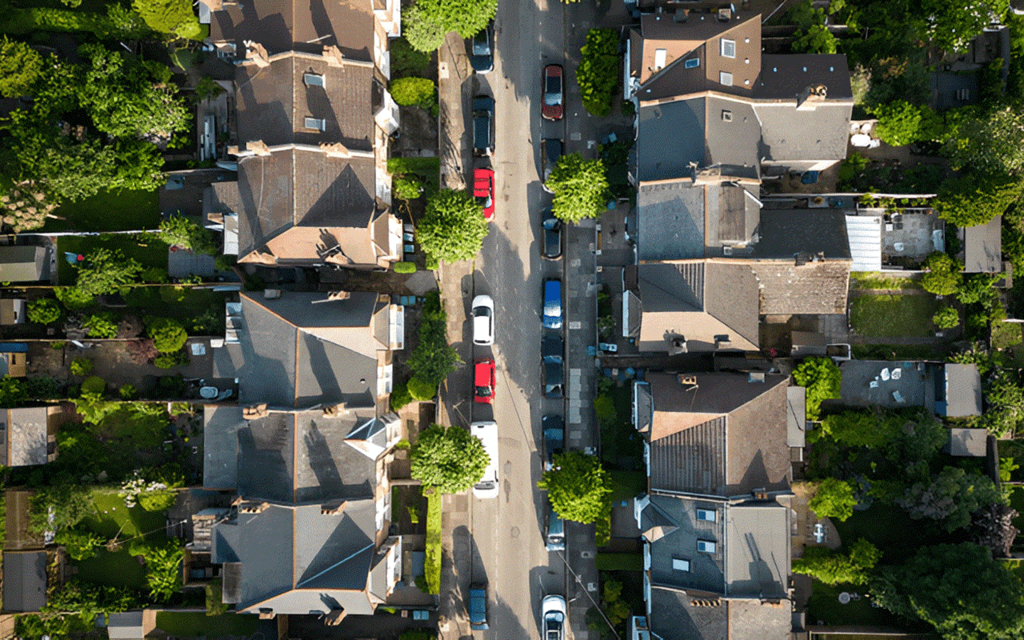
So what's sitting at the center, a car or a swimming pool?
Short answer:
car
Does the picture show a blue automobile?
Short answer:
Yes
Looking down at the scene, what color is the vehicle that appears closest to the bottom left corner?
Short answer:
blue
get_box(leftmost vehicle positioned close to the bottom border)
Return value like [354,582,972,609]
[466,581,492,629]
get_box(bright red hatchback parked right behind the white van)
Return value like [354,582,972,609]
[471,359,498,403]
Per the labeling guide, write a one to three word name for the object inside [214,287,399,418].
house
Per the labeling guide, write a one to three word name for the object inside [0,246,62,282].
shed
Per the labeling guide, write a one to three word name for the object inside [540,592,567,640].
car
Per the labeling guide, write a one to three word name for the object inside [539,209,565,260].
car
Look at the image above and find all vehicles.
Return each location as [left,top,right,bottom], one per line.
[470,420,499,496]
[466,581,492,629]
[470,296,496,345]
[539,66,567,122]
[468,19,495,76]
[538,139,563,193]
[540,592,567,640]
[540,279,566,329]
[470,99,497,159]
[472,170,497,221]
[471,359,498,403]
[539,335,566,398]
[539,209,565,260]
[542,499,568,549]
